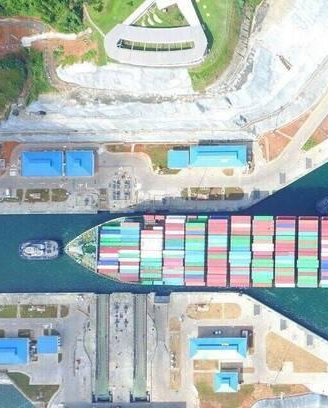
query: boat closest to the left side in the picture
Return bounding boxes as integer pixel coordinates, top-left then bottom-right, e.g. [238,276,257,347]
[18,240,60,259]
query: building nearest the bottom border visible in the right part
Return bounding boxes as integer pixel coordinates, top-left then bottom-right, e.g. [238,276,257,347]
[214,371,240,392]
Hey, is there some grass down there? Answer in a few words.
Yes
